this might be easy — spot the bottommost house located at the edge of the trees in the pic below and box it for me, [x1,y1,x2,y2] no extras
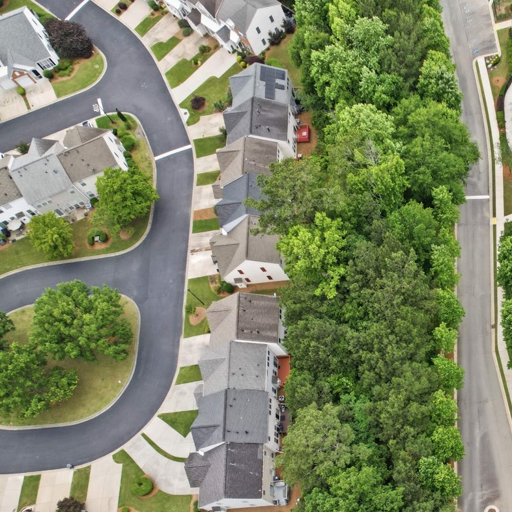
[179,443,279,512]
